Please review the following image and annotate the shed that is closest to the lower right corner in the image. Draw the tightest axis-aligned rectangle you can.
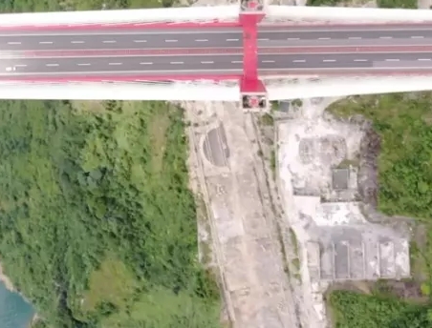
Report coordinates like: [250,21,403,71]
[332,169,350,190]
